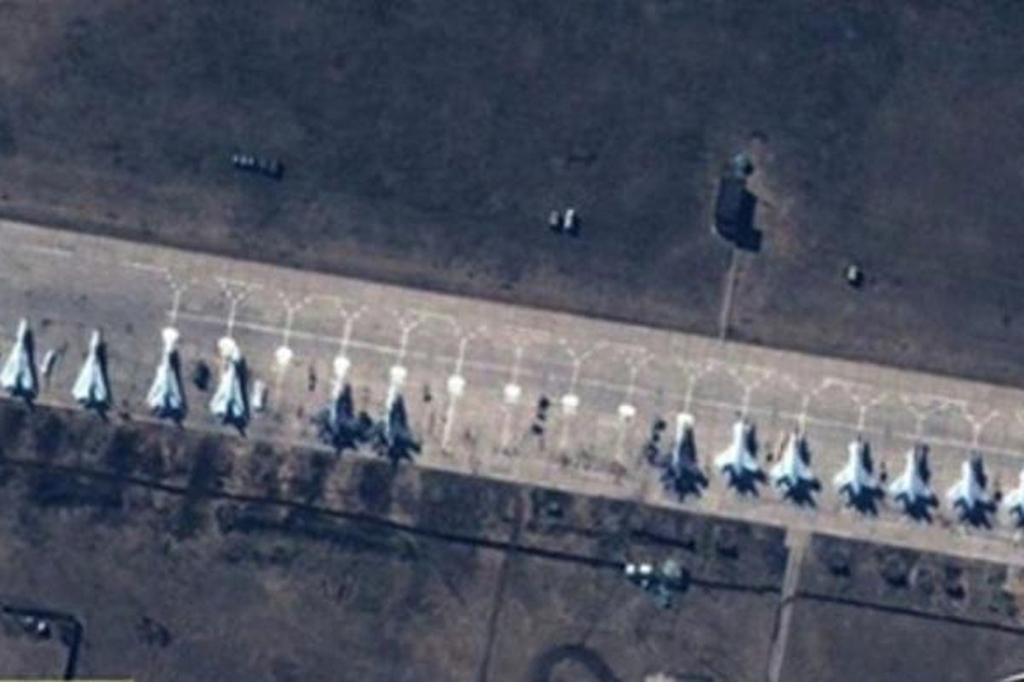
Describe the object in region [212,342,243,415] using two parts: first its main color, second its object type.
white airplane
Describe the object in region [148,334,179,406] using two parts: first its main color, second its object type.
white airplane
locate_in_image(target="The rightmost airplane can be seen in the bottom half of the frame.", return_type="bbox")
[1004,484,1024,525]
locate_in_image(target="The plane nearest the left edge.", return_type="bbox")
[2,317,33,387]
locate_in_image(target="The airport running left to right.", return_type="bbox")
[0,219,1024,565]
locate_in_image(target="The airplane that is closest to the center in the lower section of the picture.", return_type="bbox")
[371,392,414,457]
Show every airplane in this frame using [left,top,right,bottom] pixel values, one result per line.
[769,428,813,496]
[319,380,362,448]
[714,421,757,486]
[148,334,179,406]
[947,448,991,516]
[2,317,33,387]
[74,330,105,399]
[659,425,703,491]
[889,442,933,510]
[212,342,243,415]
[371,392,414,457]
[1004,484,1024,525]
[833,439,876,504]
